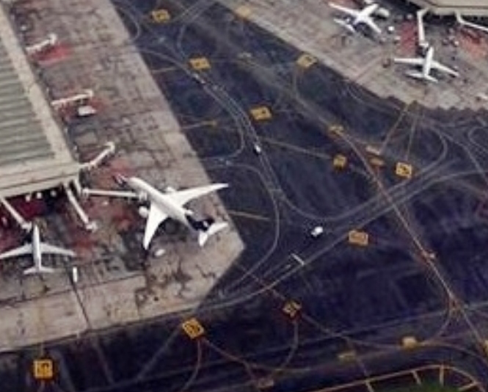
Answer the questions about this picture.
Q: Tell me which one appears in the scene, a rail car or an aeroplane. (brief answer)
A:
aeroplane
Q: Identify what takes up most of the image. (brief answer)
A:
paved ground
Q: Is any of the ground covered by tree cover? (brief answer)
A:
No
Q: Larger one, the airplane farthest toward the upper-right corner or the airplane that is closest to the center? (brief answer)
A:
the airplane that is closest to the center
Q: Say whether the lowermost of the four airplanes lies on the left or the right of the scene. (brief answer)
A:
left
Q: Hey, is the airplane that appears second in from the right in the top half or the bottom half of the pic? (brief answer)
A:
top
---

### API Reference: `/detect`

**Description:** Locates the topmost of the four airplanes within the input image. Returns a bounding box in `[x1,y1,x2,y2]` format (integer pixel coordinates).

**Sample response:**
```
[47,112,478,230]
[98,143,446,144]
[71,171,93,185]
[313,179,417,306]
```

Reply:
[331,3,380,33]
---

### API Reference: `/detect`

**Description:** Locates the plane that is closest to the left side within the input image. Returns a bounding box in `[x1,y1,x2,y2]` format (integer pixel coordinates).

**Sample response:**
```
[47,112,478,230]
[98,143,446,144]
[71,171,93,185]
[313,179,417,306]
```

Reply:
[3,225,70,273]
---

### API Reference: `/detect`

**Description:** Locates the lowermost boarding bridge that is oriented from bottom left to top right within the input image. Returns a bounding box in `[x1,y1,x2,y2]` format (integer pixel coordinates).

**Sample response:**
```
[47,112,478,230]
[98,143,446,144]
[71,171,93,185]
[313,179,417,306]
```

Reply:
[77,143,117,175]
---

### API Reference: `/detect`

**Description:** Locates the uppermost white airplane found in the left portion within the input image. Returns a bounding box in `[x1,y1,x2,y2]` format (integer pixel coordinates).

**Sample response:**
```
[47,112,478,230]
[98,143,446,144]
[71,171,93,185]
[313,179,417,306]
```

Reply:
[128,175,237,244]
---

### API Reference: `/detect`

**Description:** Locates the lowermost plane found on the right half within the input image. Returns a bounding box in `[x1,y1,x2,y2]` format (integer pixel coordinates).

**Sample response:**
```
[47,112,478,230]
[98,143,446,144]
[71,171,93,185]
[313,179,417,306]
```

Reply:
[397,47,455,84]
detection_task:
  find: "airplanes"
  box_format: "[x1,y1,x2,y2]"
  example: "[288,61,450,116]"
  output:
[397,47,455,84]
[331,3,380,33]
[128,175,237,244]
[3,225,70,273]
